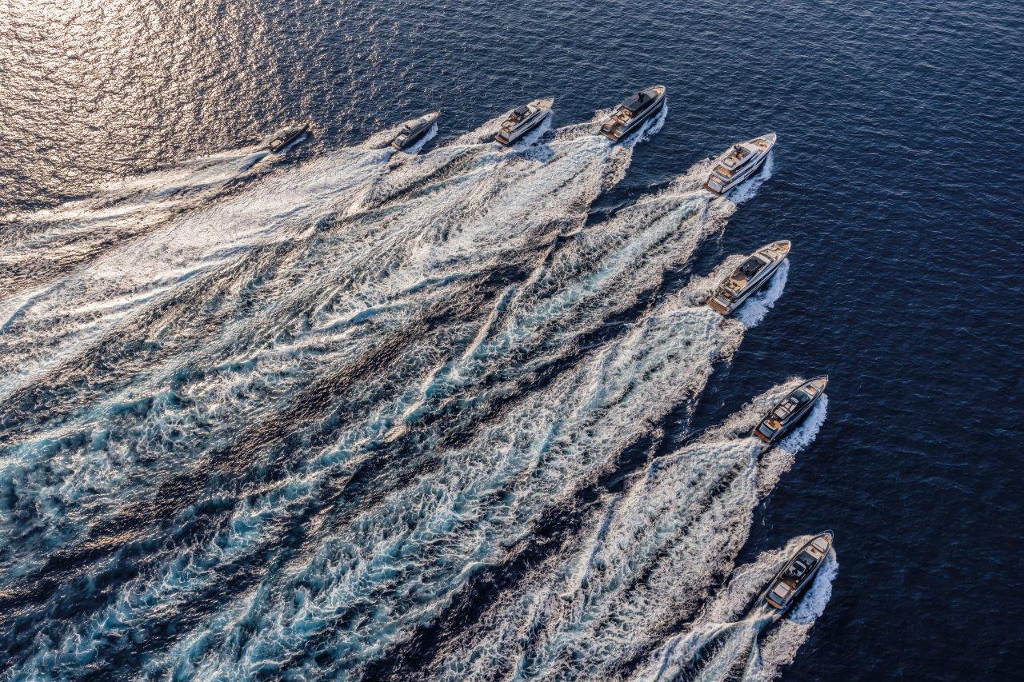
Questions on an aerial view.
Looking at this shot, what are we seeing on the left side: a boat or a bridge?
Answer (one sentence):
The feature located on the left side is a boat.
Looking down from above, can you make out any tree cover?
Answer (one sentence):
No, no tree cover is visible.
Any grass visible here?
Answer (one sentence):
No, there's no grass in this view.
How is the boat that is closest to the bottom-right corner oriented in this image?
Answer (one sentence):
In this picture, the boat that is closest to the bottom-right corner is oriented diagonally.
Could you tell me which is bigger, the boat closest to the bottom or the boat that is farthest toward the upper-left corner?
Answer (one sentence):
The larger object is the boat closest to the bottom, with the boat that is farthest toward the upper-left corner being the smaller of the pair.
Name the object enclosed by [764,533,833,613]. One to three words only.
boat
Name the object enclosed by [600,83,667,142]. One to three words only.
boat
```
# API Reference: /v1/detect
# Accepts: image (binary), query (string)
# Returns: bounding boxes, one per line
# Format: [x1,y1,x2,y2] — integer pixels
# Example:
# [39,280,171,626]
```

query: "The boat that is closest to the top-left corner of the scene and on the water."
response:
[268,122,307,152]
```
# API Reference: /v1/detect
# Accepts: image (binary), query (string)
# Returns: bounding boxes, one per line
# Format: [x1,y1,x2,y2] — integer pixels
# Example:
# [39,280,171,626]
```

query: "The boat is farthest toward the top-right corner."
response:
[703,128,777,197]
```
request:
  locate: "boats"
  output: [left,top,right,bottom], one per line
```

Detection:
[390,108,440,151]
[268,122,307,152]
[494,94,554,146]
[764,533,833,613]
[751,373,828,447]
[600,83,667,142]
[703,128,777,197]
[706,239,792,316]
